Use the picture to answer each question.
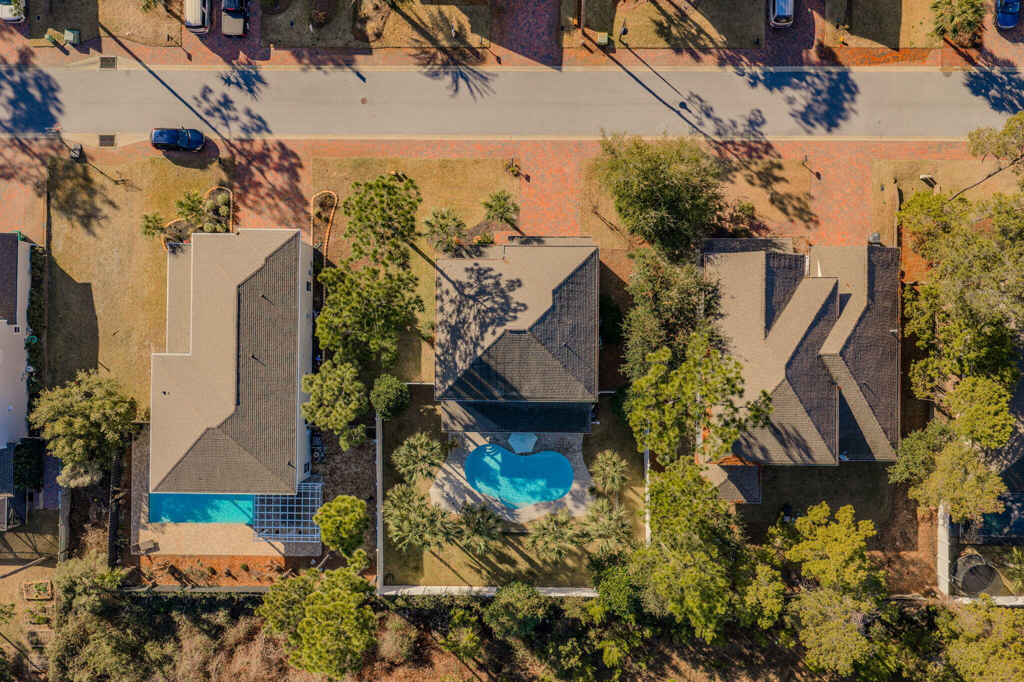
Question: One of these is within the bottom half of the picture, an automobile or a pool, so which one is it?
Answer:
pool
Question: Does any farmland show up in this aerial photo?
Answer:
No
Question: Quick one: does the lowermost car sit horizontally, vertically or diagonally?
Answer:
horizontally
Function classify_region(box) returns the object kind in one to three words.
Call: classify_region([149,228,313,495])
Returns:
house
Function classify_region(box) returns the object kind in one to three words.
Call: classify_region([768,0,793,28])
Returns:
car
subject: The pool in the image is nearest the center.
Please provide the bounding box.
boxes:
[462,441,576,512]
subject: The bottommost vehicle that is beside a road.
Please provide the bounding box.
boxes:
[149,126,205,153]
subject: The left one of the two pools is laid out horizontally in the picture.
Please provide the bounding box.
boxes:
[147,475,257,526]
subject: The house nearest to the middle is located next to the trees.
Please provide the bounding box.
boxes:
[432,236,599,433]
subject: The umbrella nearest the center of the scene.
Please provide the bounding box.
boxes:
[508,433,537,458]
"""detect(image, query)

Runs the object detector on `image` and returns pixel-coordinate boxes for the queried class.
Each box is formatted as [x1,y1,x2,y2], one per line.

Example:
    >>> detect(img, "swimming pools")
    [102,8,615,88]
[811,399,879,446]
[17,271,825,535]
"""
[147,475,257,526]
[462,441,576,512]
